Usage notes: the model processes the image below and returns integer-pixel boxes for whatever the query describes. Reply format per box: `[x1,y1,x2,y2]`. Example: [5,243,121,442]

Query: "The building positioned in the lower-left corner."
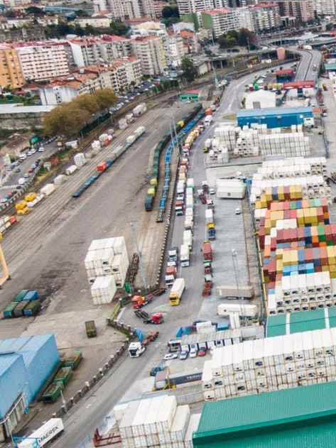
[0,331,58,444]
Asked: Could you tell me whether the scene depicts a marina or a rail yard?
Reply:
rail yard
